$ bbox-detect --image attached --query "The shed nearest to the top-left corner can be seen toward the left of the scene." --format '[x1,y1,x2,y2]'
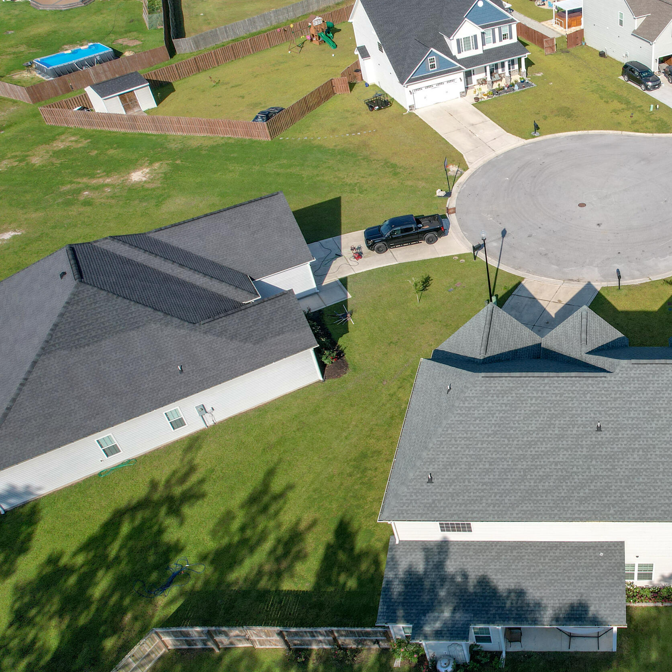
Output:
[85,65,157,112]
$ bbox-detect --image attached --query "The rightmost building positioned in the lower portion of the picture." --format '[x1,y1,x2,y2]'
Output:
[373,301,672,666]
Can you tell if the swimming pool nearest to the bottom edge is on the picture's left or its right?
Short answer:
left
